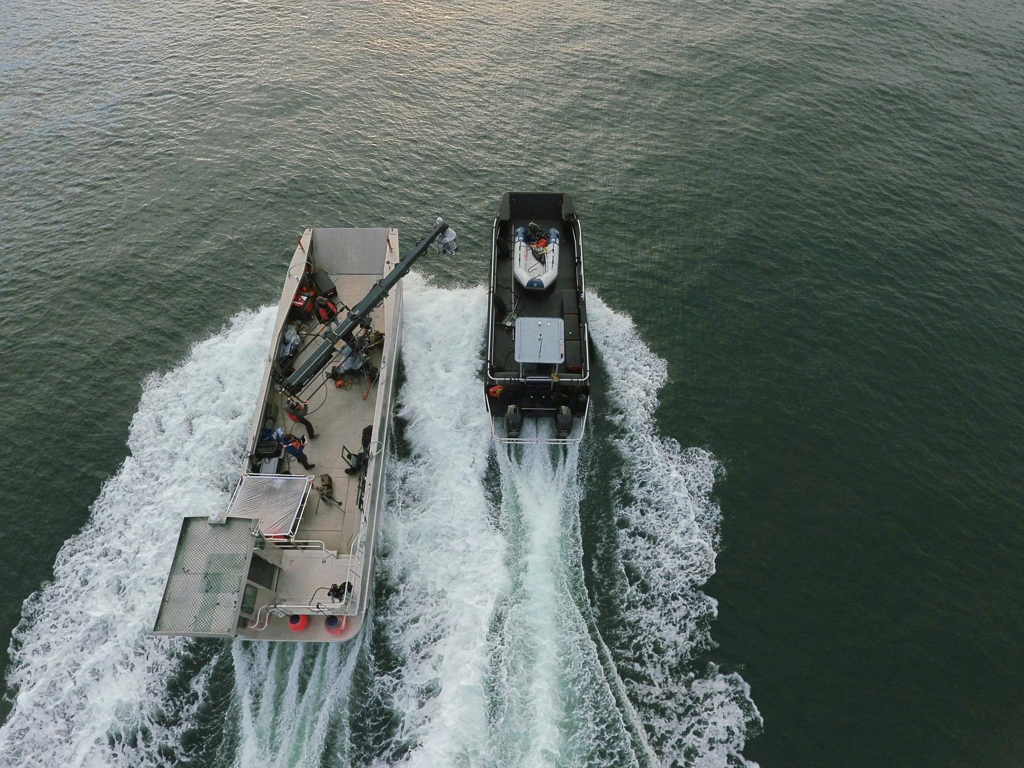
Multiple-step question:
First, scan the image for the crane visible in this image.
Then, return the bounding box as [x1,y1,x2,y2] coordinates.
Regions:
[270,216,457,403]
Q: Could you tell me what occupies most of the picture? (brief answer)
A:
water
